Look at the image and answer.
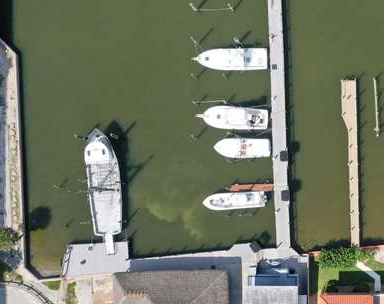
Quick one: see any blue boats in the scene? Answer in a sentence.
No, there is no blue boat in the image.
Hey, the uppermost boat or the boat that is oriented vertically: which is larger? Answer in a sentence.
Compared with the uppermost boat, the boat that is oriented vertically is the bigger one.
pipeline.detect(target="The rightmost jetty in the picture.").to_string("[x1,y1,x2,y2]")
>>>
[341,79,361,246]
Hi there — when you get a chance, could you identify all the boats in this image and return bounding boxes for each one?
[190,41,268,70]
[78,127,127,234]
[202,191,270,209]
[194,104,269,130]
[212,138,273,158]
